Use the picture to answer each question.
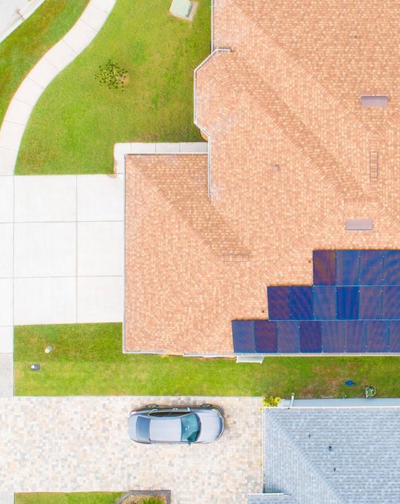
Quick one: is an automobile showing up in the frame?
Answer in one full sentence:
Yes, this view includes an automobile.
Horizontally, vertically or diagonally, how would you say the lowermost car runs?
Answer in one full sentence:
From this overhead view, the lowermost car appears to run horizontally.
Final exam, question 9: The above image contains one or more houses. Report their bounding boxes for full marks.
[122,0,400,357]
[247,392,400,504]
